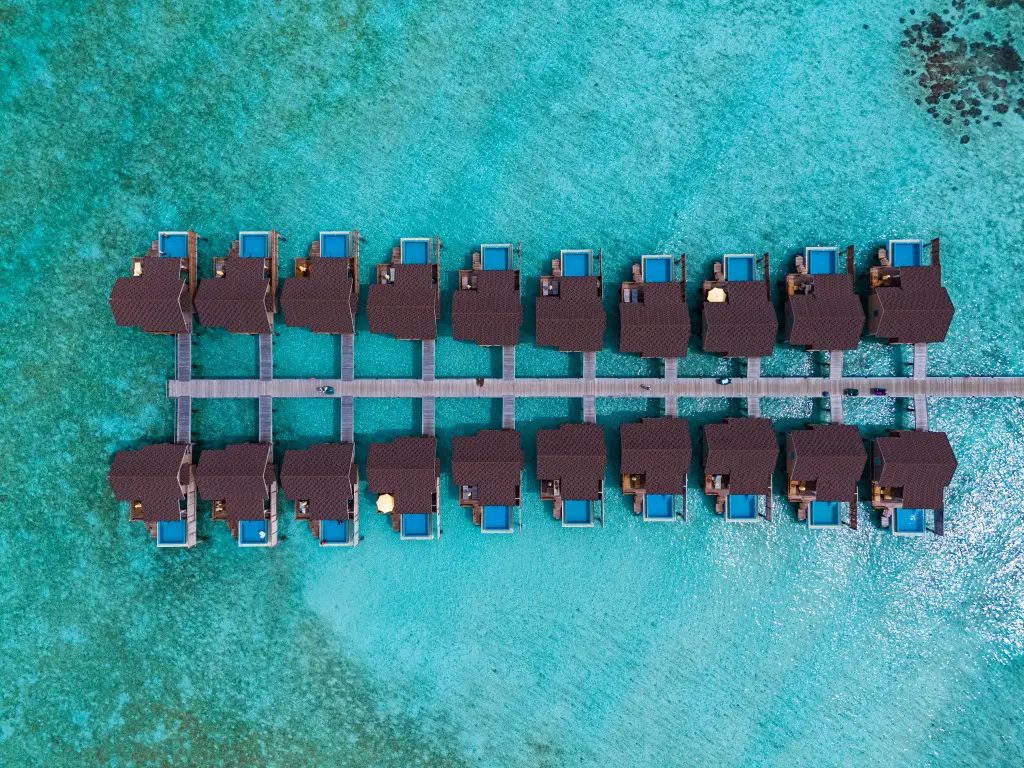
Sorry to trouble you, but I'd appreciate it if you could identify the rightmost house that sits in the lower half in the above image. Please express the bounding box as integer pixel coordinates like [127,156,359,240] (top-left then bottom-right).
[864,433,957,538]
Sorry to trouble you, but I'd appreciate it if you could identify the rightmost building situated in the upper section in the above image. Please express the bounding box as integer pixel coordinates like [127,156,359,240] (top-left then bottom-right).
[861,237,954,342]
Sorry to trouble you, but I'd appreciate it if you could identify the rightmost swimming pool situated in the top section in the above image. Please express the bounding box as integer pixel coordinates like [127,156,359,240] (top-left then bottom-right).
[885,240,921,269]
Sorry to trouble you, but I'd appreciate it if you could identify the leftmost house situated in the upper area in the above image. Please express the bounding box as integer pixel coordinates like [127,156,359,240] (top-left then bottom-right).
[108,228,208,334]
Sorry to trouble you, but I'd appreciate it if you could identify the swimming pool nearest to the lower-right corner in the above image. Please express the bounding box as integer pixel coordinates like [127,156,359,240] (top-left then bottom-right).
[888,507,924,536]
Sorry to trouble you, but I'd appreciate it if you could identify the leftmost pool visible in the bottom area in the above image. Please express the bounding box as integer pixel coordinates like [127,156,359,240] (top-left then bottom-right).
[157,518,187,547]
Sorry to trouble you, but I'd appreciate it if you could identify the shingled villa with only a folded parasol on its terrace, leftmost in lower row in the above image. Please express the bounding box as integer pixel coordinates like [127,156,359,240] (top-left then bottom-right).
[107,444,206,550]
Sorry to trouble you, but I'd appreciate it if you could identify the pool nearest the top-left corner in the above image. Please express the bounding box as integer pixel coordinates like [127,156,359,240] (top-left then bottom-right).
[159,232,188,260]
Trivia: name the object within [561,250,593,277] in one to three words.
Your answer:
swimming pool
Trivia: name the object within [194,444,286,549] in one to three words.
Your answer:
house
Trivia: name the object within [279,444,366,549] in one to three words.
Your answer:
house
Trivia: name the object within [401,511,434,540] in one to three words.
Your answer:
swimming pool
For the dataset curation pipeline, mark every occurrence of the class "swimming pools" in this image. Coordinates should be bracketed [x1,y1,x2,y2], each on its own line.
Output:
[481,244,513,271]
[888,507,924,536]
[640,255,673,284]
[239,231,271,260]
[239,517,270,546]
[319,517,353,546]
[642,492,675,521]
[157,518,187,547]
[802,247,838,276]
[562,500,594,527]
[805,500,841,528]
[159,232,188,260]
[481,506,513,533]
[401,511,434,540]
[885,240,921,269]
[723,493,758,522]
[320,231,353,260]
[722,254,756,283]
[401,238,434,267]
[561,250,593,277]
